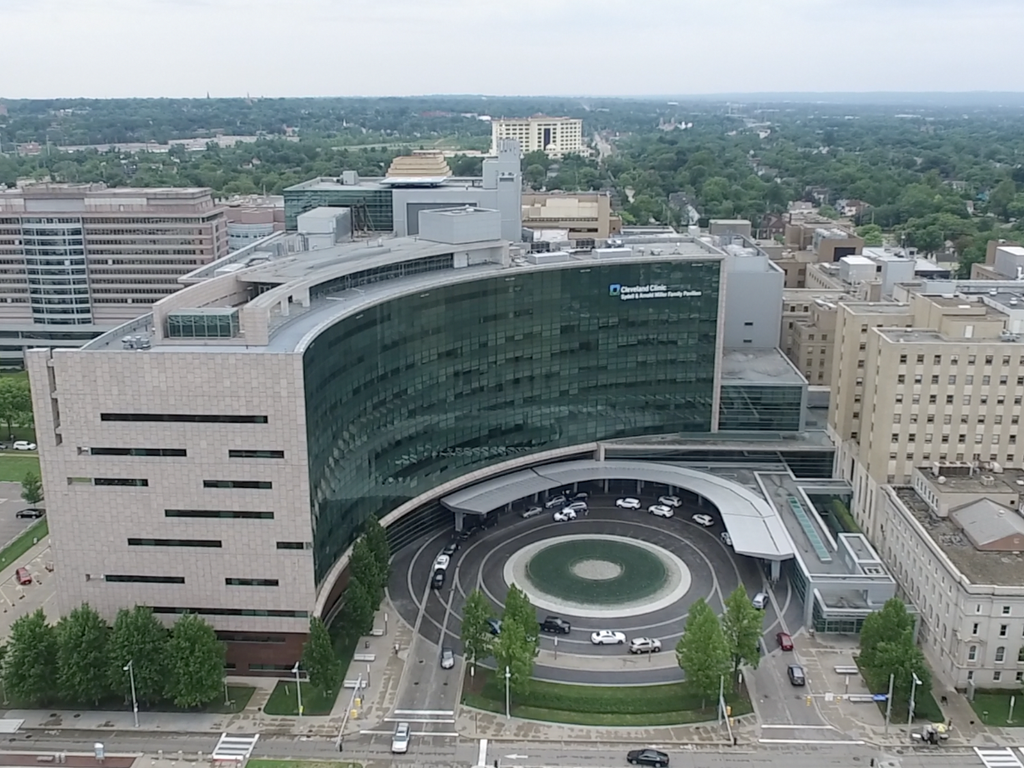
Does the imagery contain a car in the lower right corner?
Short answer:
Yes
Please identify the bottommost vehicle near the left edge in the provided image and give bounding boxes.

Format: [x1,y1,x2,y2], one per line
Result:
[15,568,32,586]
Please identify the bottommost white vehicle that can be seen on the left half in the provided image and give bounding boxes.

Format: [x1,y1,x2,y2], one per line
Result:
[388,724,414,754]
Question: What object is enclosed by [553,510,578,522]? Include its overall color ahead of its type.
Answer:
white vehicle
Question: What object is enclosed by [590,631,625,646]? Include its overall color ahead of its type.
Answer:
white car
